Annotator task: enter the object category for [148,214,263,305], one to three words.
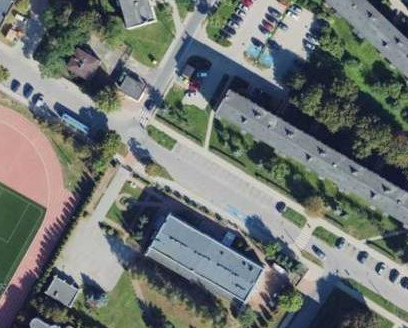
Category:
building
